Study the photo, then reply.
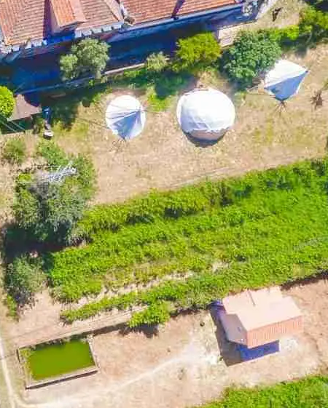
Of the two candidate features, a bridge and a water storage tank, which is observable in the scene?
water storage tank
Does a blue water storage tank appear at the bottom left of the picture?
No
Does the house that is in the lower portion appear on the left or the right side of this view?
right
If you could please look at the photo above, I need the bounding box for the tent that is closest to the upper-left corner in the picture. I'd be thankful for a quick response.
[97,94,154,147]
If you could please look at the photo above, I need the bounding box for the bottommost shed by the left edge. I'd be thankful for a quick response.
[7,90,43,120]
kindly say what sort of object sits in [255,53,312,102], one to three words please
tent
